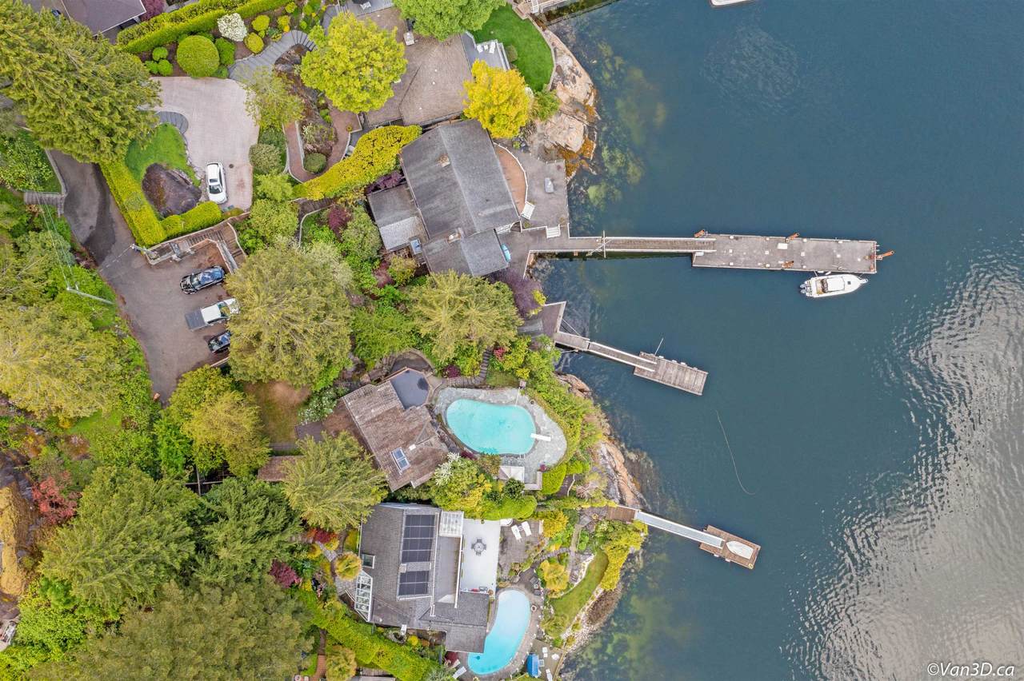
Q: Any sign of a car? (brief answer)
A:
Yes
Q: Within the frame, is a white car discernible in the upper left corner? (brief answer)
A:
Yes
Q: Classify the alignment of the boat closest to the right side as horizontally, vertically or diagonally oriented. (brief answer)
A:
horizontally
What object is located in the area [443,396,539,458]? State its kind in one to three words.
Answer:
swimming pool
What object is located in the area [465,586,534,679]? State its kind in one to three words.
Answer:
swimming pool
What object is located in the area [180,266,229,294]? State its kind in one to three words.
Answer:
car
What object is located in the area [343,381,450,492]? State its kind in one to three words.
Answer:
house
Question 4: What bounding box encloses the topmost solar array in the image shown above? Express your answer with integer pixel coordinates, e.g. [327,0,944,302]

[401,515,436,563]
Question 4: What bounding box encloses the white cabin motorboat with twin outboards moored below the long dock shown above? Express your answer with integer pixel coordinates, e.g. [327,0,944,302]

[796,276,871,299]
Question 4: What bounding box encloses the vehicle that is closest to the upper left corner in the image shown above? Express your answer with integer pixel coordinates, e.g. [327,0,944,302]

[205,161,232,205]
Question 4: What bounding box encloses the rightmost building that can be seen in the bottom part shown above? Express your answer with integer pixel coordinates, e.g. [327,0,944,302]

[499,465,524,482]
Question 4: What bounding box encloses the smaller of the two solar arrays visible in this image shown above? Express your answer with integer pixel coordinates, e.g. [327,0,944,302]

[398,571,430,597]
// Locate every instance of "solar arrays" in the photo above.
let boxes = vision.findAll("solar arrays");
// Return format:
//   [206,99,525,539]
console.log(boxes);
[398,571,430,597]
[401,515,436,563]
